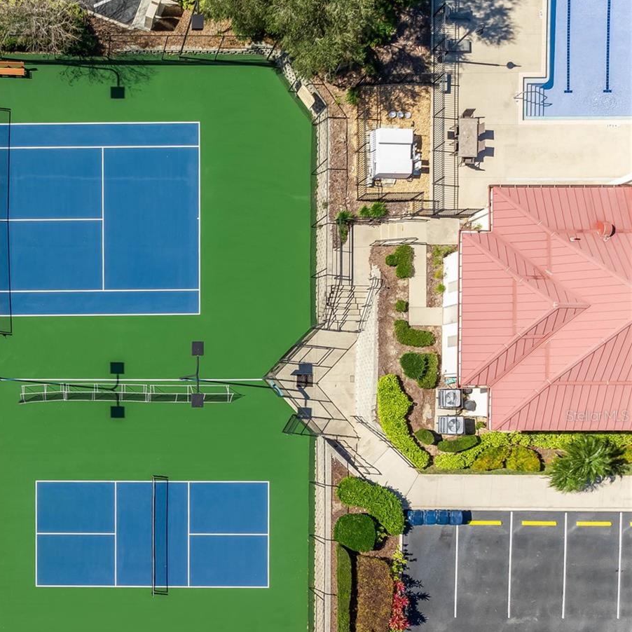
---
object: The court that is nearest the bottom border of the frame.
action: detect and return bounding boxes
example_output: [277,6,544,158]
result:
[36,481,269,587]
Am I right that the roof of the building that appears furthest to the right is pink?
Yes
